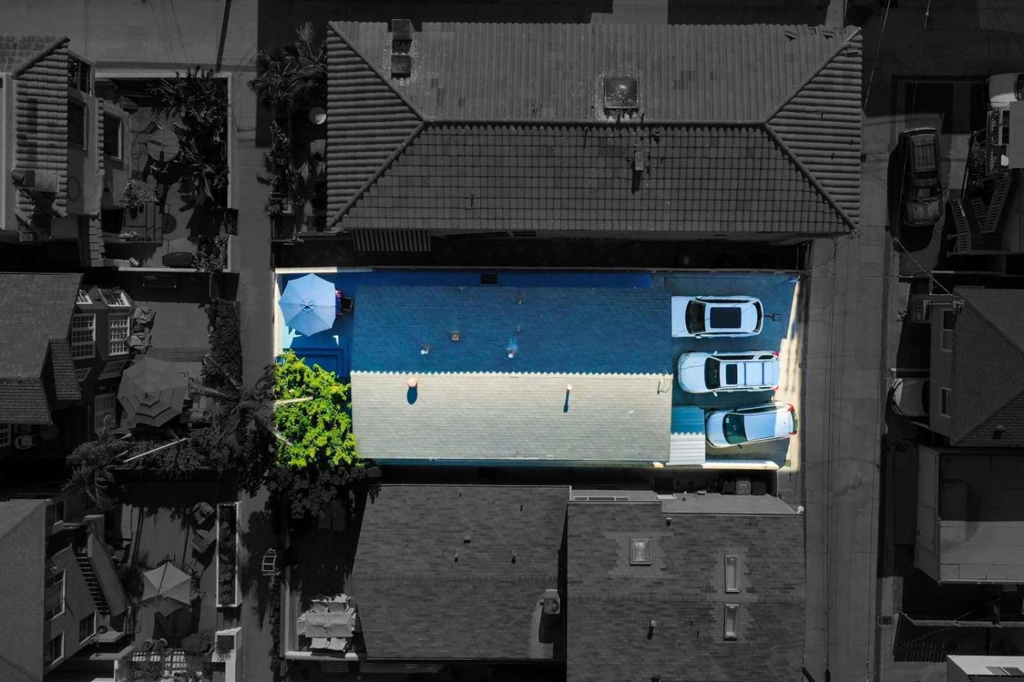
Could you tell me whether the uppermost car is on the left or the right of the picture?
right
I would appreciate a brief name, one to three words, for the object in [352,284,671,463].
house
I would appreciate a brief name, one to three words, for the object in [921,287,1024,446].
house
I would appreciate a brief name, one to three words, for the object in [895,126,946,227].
car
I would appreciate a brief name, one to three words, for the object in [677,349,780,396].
car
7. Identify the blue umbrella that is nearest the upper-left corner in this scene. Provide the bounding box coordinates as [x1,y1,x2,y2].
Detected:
[277,274,337,334]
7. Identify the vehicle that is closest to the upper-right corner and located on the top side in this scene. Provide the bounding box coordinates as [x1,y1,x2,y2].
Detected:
[979,69,1024,111]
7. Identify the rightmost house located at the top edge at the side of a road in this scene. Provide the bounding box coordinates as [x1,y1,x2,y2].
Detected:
[325,12,864,238]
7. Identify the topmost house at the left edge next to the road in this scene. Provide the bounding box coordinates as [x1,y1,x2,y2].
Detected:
[0,36,126,275]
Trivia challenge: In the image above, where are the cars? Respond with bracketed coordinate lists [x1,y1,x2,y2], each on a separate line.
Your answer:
[979,69,1024,111]
[895,126,946,227]
[705,400,800,449]
[670,292,765,340]
[677,349,780,396]
[887,376,933,420]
